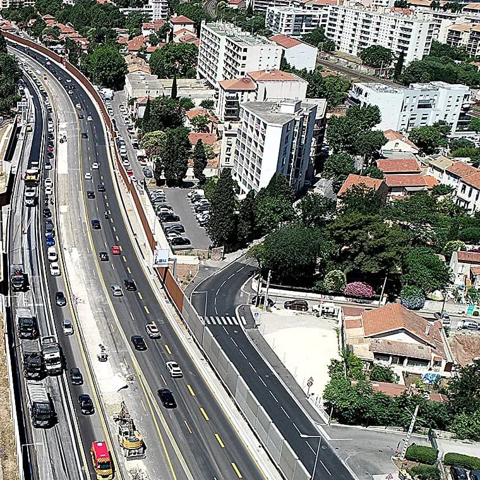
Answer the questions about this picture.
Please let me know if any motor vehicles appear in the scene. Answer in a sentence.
Yes, looking at the shot, I can spot a motor vehicle.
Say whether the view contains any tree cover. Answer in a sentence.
Yes, the picture does contain tree cover.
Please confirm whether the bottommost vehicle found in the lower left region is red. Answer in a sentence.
Yes, red is the color of the bottommost vehicle found in the lower left region.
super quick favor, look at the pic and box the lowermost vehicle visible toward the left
[90,441,113,480]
